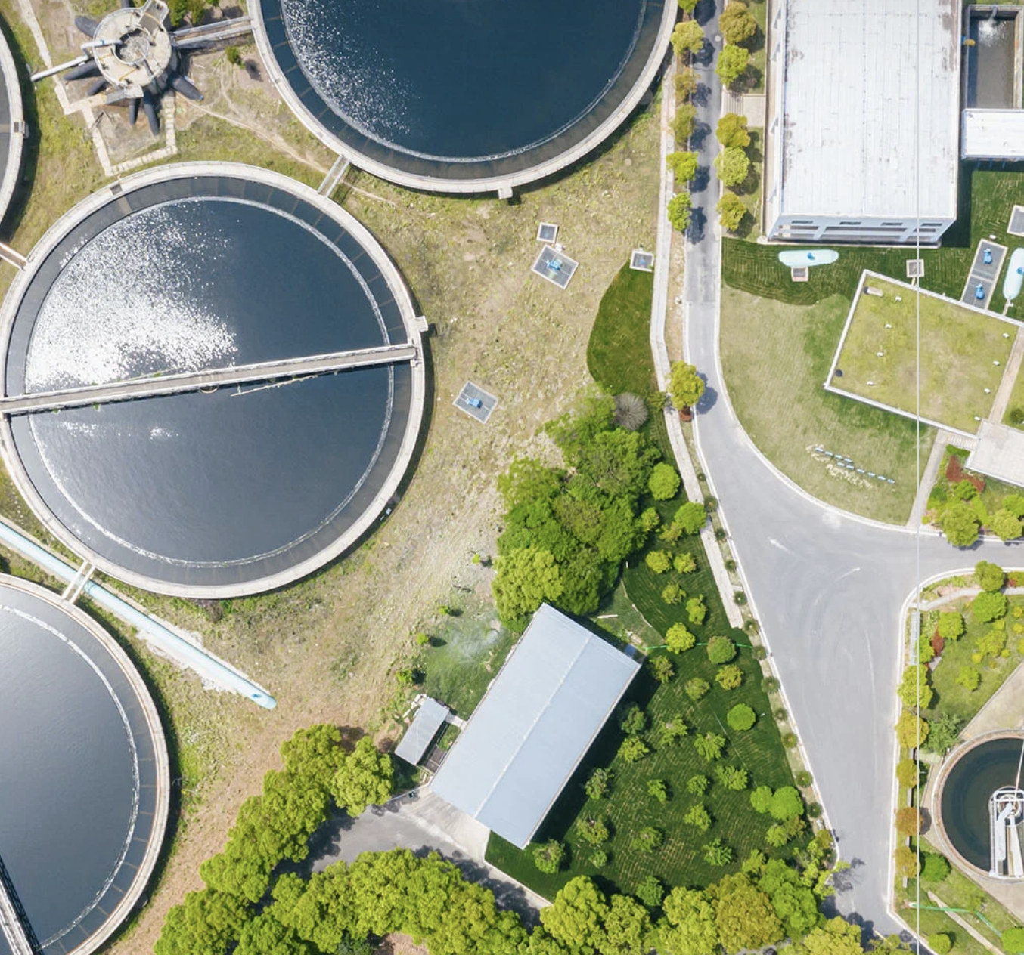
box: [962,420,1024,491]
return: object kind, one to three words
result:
building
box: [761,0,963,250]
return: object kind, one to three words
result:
building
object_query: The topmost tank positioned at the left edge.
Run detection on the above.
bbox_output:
[0,27,35,225]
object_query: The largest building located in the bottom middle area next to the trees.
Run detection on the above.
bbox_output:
[430,603,642,849]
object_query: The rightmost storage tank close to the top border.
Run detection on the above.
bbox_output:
[248,0,678,204]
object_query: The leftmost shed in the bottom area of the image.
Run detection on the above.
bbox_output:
[394,697,452,766]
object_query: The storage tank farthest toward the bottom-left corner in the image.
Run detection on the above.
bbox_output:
[0,574,171,955]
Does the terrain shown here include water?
Yes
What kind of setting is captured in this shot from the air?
industrial area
